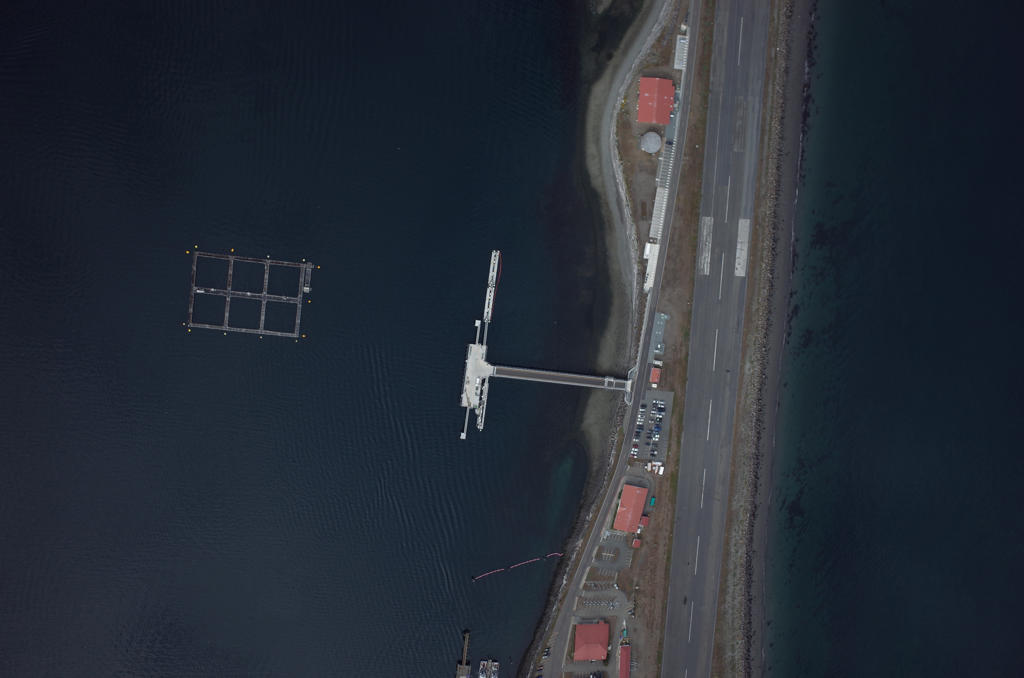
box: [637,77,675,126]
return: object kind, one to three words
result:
building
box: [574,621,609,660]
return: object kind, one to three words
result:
building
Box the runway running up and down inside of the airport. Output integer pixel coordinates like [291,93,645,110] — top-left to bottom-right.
[661,0,770,678]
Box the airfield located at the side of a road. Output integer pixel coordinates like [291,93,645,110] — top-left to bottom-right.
[661,0,770,678]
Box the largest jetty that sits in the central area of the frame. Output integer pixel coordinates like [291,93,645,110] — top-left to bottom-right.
[459,320,632,439]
